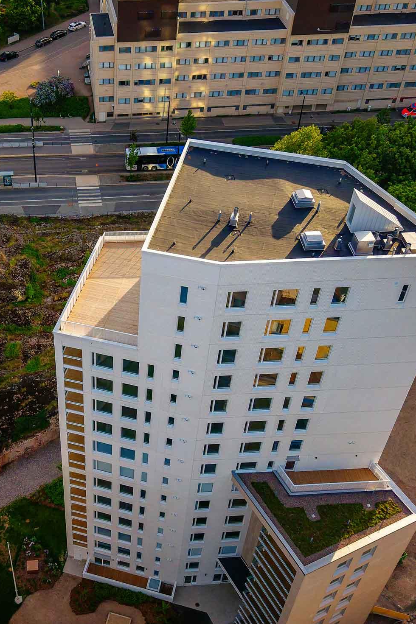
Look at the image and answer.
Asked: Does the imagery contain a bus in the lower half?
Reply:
No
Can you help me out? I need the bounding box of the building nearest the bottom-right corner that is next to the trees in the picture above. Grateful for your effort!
[53,139,416,624]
